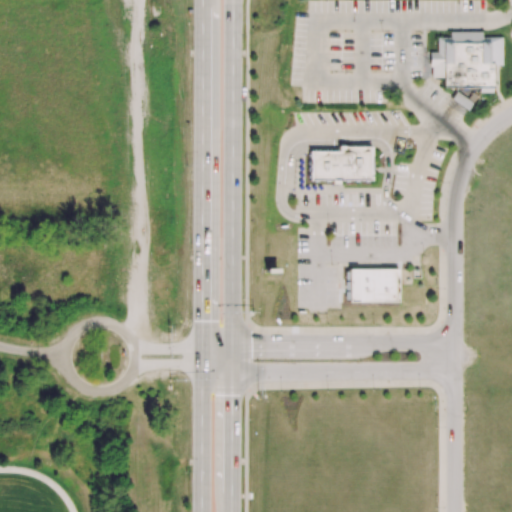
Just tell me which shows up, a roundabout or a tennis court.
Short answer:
roundabout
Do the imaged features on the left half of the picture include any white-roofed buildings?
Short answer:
No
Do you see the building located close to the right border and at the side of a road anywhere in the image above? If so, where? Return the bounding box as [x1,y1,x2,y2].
[429,32,505,94]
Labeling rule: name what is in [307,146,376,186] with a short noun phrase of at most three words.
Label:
building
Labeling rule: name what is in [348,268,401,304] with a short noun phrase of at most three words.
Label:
building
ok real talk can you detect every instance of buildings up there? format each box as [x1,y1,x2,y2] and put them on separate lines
[429,32,505,94]
[348,268,401,304]
[307,146,376,186]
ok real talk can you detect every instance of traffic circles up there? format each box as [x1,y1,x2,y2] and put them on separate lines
[62,315,140,396]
